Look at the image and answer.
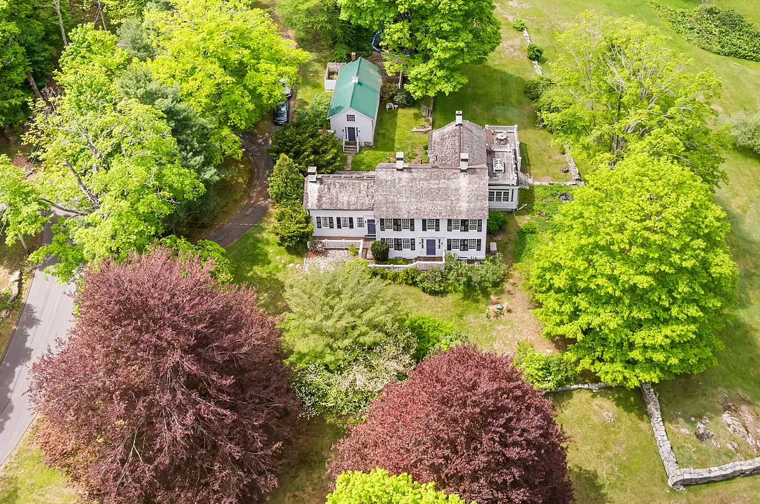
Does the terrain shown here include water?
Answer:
No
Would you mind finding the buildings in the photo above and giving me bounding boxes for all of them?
[304,104,543,267]
[327,50,382,153]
